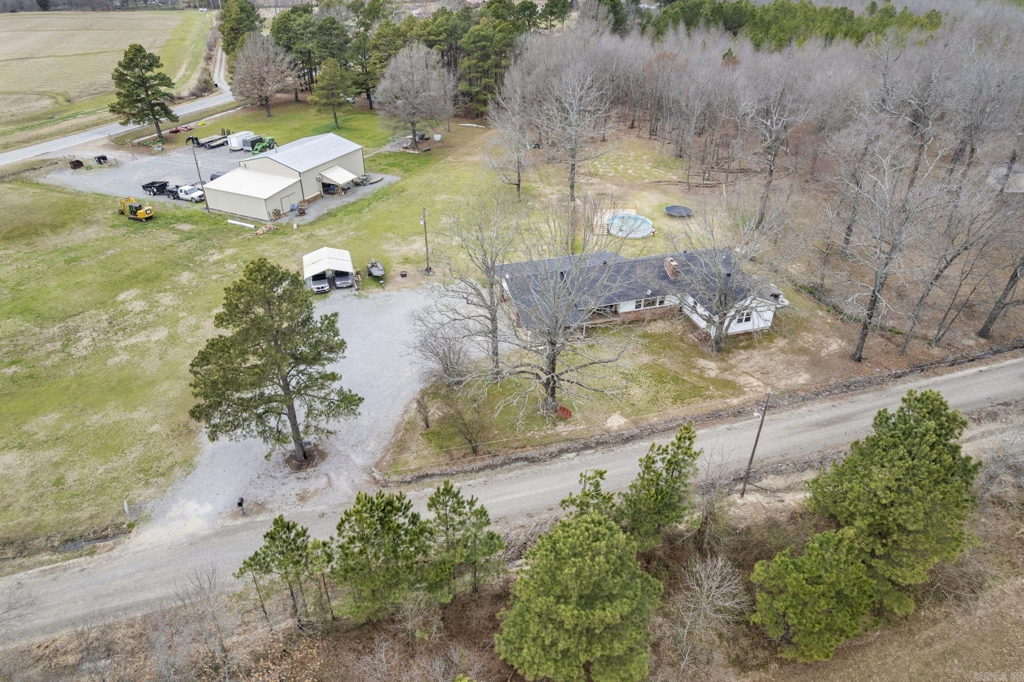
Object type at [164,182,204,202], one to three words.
vehicle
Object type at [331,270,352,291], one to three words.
vehicle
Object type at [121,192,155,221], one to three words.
work vehicle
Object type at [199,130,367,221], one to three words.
building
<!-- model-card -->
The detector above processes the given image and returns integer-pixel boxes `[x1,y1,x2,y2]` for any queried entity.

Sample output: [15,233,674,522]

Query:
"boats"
[368,254,385,275]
